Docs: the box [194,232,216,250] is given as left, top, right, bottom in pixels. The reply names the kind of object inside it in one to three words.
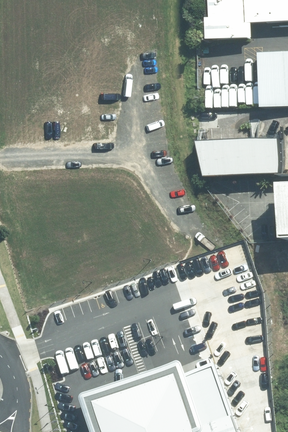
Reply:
vehicle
